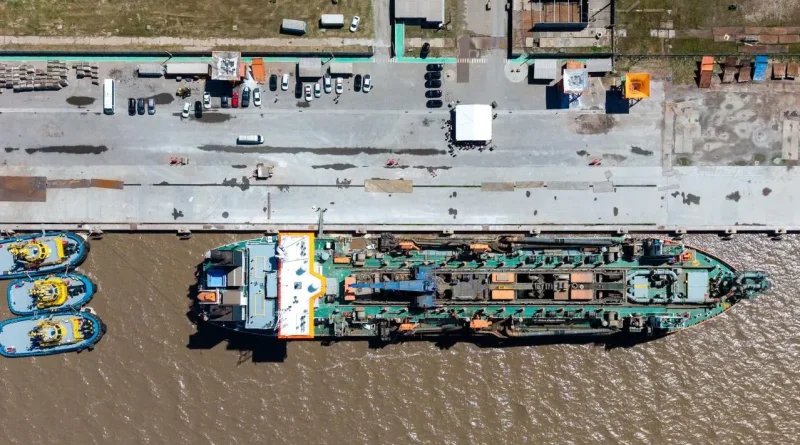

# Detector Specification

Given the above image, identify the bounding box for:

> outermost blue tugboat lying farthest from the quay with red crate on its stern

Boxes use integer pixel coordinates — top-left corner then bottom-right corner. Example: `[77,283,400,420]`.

[0,312,108,355]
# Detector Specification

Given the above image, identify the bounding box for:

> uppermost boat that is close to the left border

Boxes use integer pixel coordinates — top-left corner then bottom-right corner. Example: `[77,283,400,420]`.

[0,233,94,277]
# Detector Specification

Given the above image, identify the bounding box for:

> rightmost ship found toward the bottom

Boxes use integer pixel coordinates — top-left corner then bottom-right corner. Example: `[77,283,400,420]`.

[198,232,771,340]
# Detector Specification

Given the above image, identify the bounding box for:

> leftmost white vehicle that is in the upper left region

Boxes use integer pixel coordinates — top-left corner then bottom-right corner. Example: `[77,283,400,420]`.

[102,78,115,114]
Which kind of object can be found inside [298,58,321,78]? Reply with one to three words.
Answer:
shed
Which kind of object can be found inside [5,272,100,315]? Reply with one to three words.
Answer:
boat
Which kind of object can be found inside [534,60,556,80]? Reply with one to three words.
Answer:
shed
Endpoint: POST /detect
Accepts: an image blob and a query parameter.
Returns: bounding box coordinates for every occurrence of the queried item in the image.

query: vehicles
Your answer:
[281,74,288,90]
[350,16,359,31]
[138,98,145,114]
[102,78,115,114]
[295,82,302,98]
[426,64,441,71]
[253,89,261,105]
[231,94,238,108]
[314,84,320,97]
[424,73,441,80]
[420,42,429,59]
[242,87,250,107]
[426,81,441,87]
[354,75,362,91]
[305,85,312,101]
[183,102,191,118]
[221,95,228,109]
[426,90,441,98]
[204,93,211,108]
[194,101,202,118]
[363,75,370,92]
[324,75,331,91]
[336,77,343,94]
[148,98,155,114]
[426,100,441,107]
[269,75,277,91]
[128,98,137,115]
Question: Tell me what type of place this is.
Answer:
port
